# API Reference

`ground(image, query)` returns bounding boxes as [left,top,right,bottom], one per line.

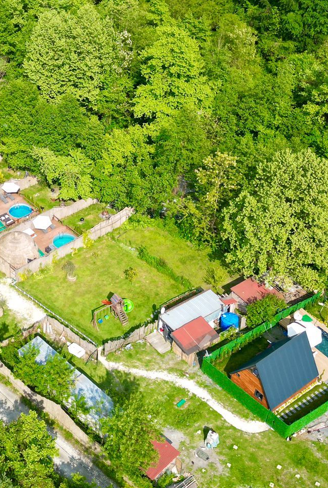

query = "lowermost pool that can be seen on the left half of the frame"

[51,230,75,249]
